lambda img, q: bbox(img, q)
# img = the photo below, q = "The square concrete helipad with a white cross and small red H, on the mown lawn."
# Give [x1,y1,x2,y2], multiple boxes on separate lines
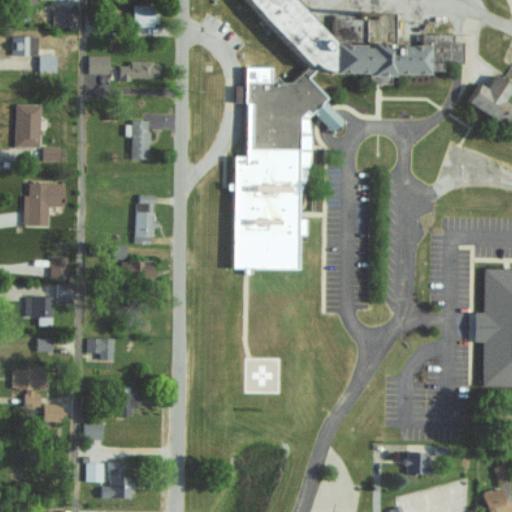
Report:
[244,357,281,394]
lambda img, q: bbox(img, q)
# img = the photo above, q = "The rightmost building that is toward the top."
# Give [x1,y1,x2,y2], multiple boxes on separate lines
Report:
[474,70,512,124]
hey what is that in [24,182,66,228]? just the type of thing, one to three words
house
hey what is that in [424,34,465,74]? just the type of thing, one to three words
building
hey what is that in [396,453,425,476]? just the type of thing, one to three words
house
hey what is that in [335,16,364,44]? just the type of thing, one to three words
building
